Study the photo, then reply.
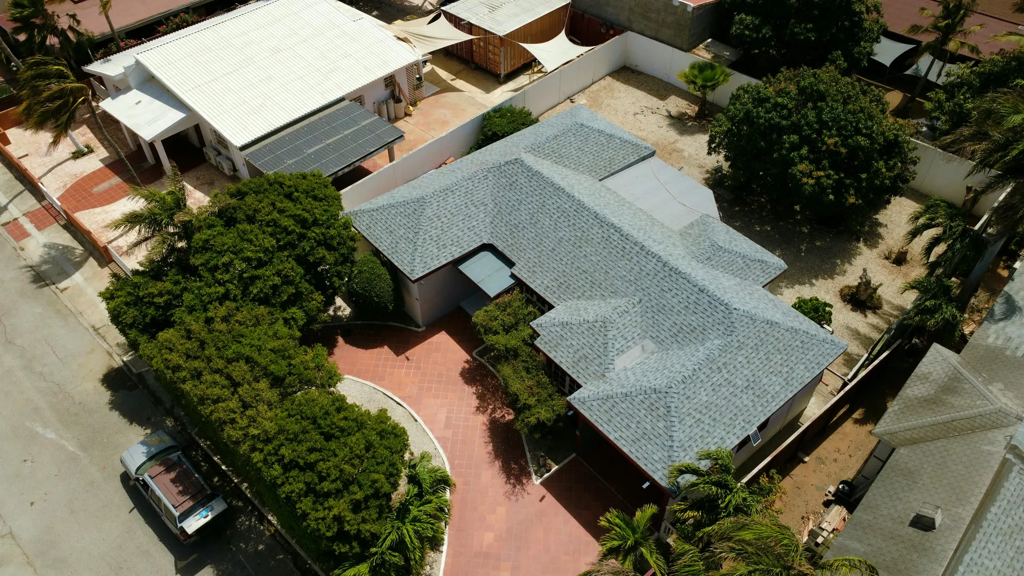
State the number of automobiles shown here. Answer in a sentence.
I count just 1 automobile.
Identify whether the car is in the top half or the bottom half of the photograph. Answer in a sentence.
You can find the car in the bottom half.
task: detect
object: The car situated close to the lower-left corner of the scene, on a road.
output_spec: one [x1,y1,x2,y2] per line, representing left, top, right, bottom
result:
[125,428,235,545]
